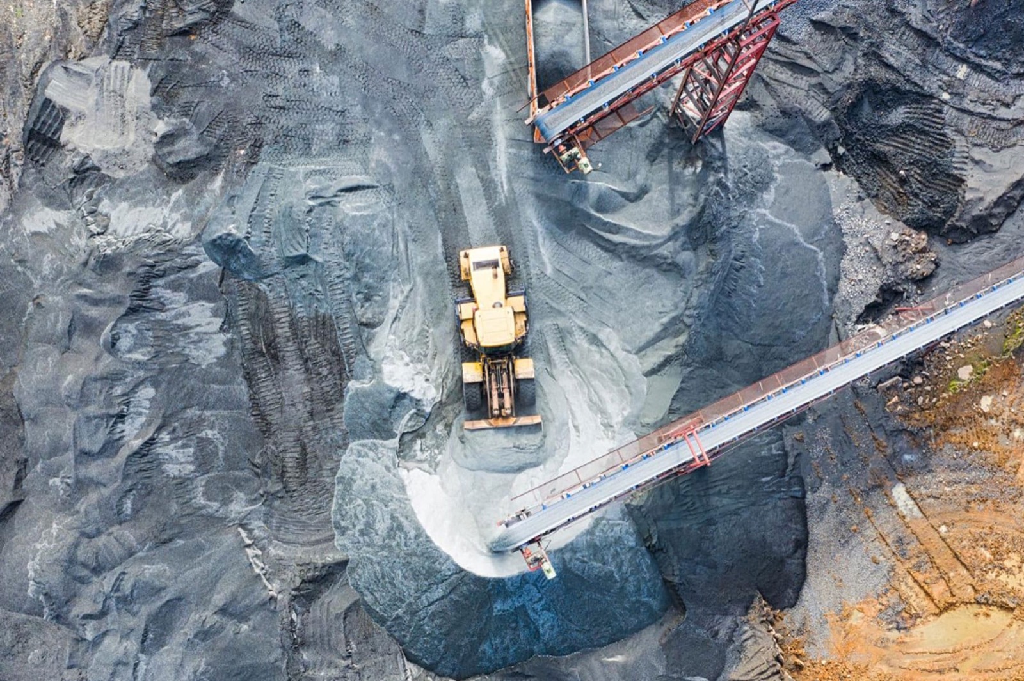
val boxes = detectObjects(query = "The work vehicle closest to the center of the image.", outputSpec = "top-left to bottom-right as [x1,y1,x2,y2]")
[452,246,546,445]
